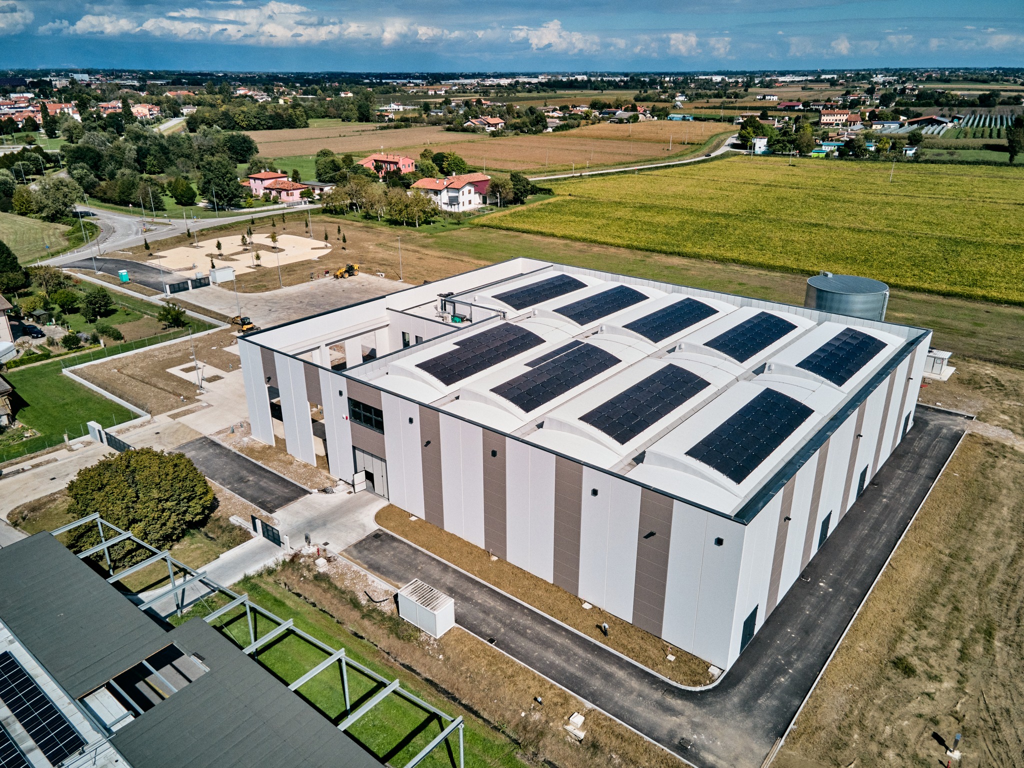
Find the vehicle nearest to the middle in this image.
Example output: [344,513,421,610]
[334,264,362,281]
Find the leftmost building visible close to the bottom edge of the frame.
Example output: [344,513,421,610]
[0,511,466,768]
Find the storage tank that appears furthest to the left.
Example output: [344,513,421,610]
[804,270,906,323]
